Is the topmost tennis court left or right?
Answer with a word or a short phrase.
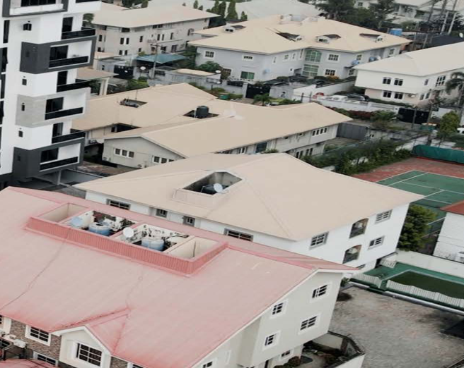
right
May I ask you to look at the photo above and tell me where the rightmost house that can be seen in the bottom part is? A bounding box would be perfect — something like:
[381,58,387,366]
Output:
[434,201,464,258]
